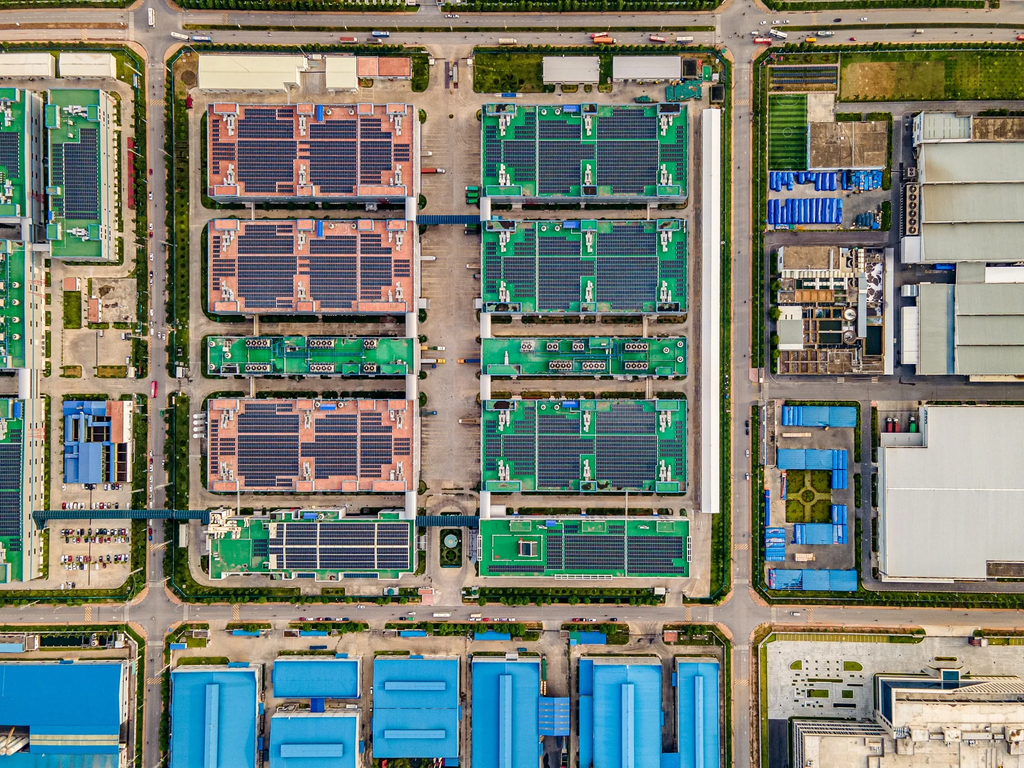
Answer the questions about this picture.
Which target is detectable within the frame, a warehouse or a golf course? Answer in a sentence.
The one in the frame is a warehouse.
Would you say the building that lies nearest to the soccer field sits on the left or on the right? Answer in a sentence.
The building that lies nearest to the soccer field appears in the right half of the scene.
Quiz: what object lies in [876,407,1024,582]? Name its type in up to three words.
warehouse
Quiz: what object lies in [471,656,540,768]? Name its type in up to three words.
building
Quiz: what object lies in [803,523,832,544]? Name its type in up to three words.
tent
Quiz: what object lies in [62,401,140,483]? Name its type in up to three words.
house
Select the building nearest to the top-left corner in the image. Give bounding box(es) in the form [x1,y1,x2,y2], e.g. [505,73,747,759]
[0,54,58,82]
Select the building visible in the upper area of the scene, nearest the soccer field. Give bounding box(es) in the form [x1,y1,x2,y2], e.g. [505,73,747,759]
[806,121,889,170]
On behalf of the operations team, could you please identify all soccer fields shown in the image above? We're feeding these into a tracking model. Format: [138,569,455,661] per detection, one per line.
[767,94,808,170]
